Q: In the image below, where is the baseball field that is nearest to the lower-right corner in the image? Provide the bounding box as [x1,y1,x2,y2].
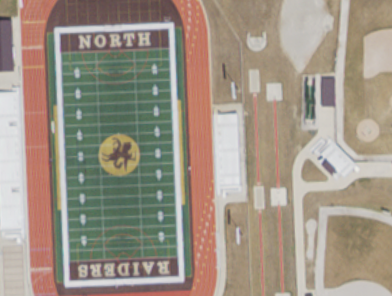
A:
[316,206,392,296]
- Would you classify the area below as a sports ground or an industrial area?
sports ground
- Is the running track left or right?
left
